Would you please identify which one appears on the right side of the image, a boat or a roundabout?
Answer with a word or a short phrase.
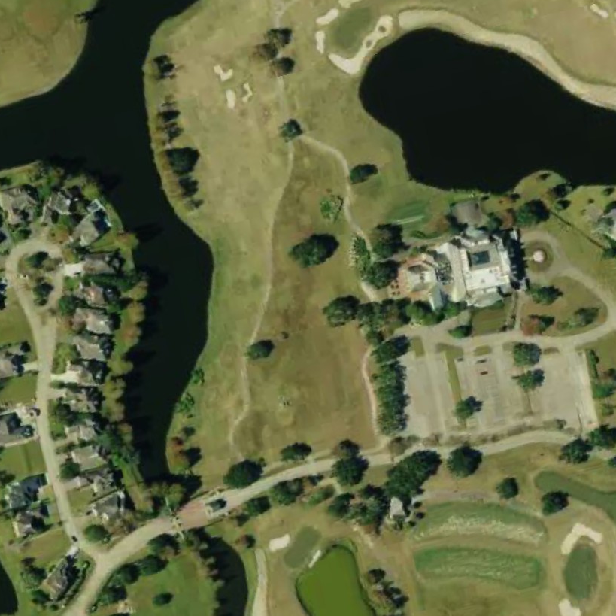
roundabout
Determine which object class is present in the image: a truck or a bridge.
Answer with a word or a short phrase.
bridge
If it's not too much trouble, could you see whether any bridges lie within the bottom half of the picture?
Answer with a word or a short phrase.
Yes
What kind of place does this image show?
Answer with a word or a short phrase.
golf course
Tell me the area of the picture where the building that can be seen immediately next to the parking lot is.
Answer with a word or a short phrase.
right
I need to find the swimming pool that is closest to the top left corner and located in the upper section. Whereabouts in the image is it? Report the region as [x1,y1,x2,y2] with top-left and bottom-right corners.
[94,200,111,226]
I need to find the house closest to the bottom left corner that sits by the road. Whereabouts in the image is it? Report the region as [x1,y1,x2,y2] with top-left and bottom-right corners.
[38,558,81,602]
